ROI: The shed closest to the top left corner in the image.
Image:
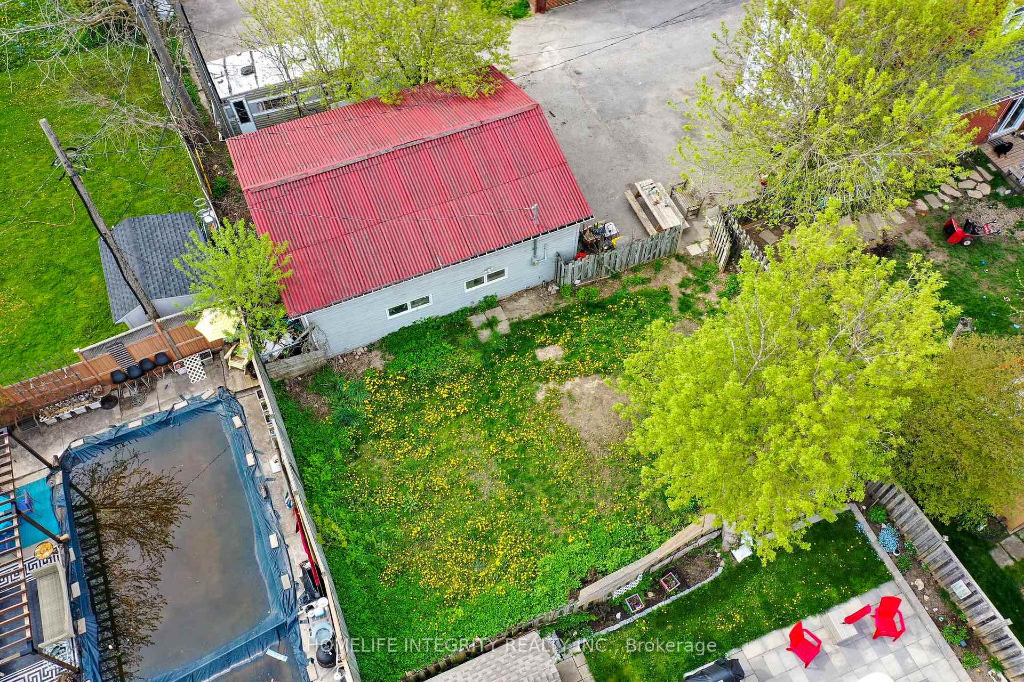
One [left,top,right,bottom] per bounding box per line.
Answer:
[99,207,219,345]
